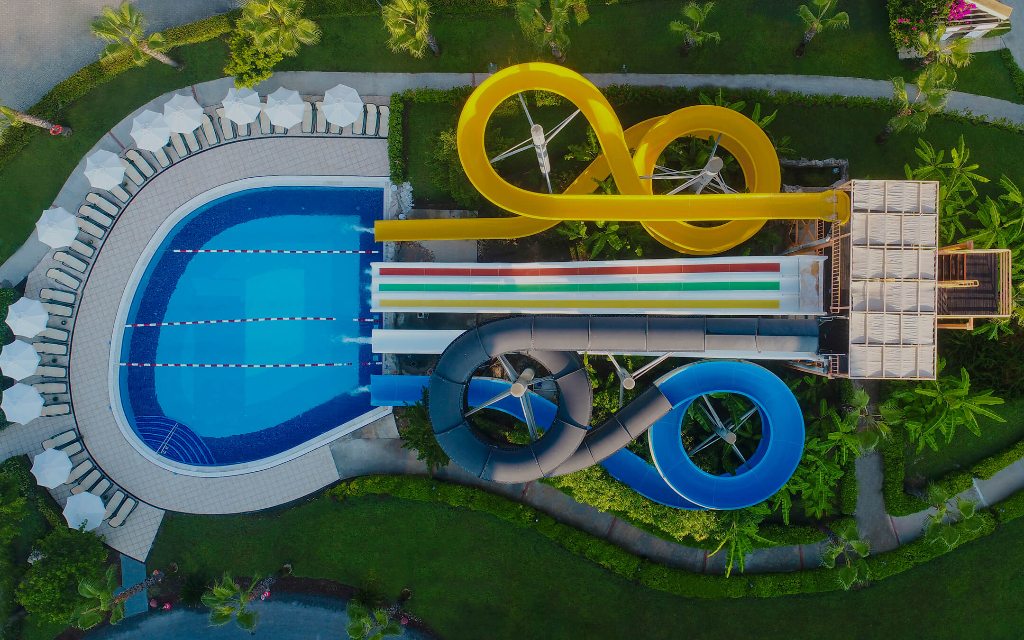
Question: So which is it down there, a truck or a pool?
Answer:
pool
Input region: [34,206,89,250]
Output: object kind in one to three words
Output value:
umbrella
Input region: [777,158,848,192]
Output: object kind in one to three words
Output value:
pond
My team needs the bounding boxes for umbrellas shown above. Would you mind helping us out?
[62,489,112,529]
[34,206,89,250]
[221,85,261,125]
[2,384,57,425]
[83,148,132,191]
[0,338,55,381]
[130,111,171,151]
[321,85,362,126]
[263,86,306,128]
[162,91,203,134]
[7,296,61,336]
[31,447,85,490]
